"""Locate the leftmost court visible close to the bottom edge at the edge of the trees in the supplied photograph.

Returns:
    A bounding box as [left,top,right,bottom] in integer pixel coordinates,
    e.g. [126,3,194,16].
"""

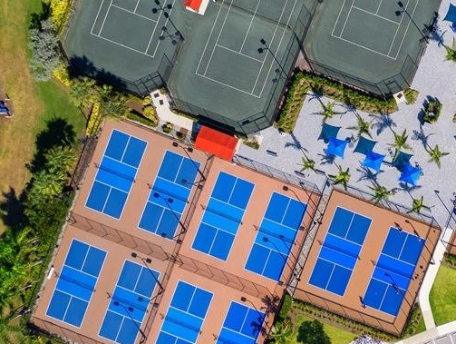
[30,219,121,344]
